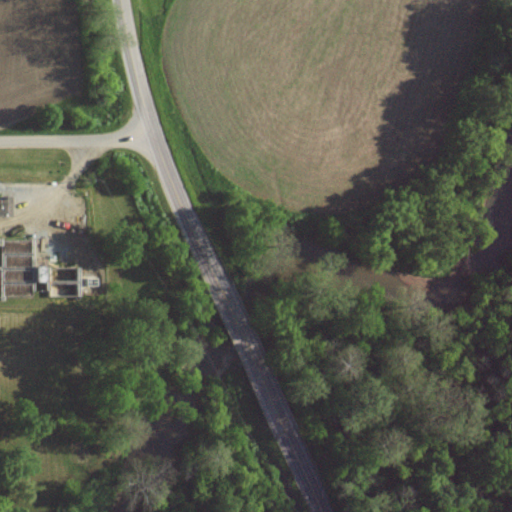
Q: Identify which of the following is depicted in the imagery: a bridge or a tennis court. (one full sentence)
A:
Looking from above, you can make out a bridge.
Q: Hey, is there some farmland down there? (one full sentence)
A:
Yes, there's farmland in this view.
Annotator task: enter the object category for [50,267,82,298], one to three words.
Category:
storage tank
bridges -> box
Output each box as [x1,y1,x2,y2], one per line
[212,286,258,349]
